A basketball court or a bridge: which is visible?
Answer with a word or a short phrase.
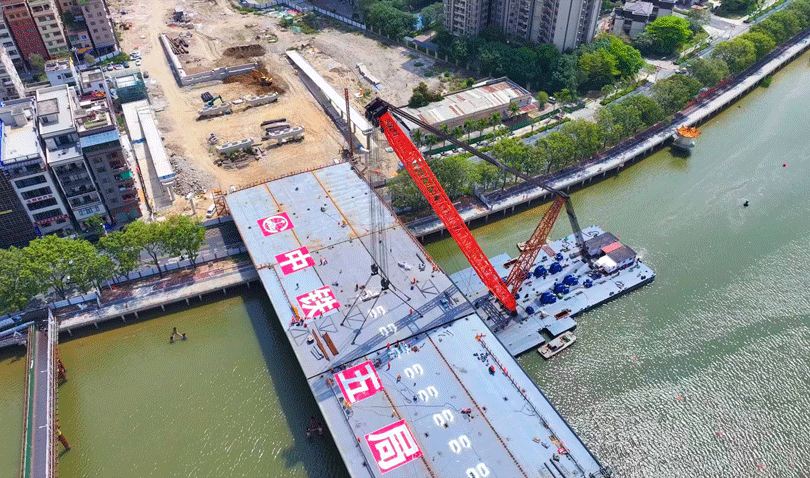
bridge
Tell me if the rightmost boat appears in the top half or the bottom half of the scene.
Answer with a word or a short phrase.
top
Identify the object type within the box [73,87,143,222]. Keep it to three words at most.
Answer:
house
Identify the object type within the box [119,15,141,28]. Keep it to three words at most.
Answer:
vehicle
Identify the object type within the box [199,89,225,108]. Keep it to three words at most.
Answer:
work vehicle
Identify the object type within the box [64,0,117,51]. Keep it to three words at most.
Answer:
building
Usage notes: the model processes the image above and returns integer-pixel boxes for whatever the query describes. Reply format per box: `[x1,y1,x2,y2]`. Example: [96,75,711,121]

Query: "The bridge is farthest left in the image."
[19,309,81,478]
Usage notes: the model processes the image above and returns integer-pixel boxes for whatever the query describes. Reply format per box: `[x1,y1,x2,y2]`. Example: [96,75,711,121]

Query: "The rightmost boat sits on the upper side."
[670,131,701,154]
